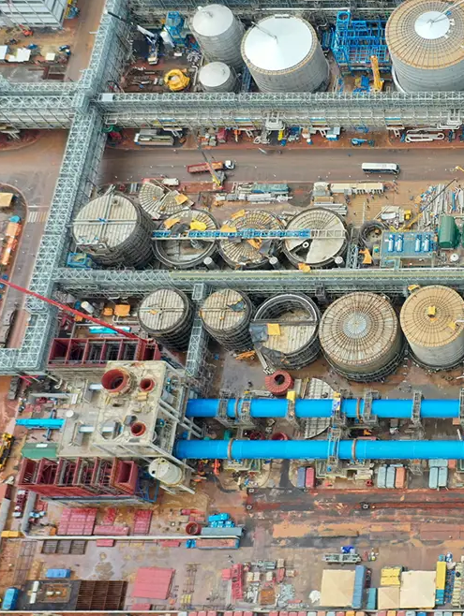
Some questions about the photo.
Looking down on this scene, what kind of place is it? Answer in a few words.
industrial area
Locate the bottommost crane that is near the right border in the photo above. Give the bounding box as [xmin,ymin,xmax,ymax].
[390,178,458,238]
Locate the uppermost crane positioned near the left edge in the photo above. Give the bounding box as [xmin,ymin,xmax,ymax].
[0,277,151,339]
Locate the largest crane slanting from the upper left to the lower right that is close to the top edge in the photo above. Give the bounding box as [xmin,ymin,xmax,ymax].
[104,11,164,72]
